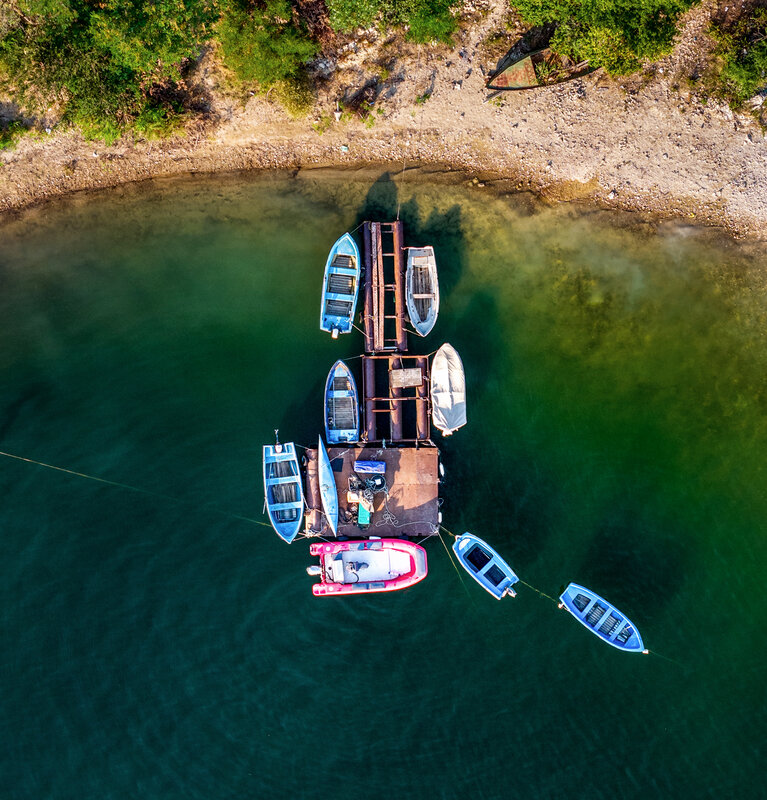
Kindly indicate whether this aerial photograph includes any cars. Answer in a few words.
No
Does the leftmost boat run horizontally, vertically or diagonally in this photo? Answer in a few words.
vertically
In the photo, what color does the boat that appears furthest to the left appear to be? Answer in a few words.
blue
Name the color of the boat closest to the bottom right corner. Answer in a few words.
blue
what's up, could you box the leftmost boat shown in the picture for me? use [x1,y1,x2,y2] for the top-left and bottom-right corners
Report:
[261,430,305,544]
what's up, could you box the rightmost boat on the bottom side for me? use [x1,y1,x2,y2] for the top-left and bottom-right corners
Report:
[558,582,644,652]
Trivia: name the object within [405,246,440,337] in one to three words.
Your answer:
boat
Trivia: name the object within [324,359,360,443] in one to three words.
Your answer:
boat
